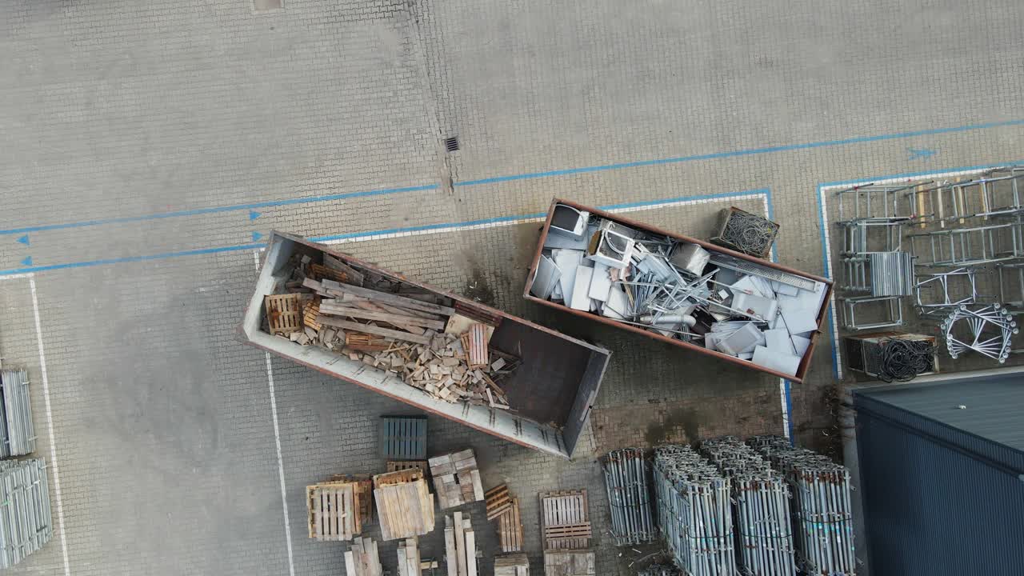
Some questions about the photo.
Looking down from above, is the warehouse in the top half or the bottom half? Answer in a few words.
bottom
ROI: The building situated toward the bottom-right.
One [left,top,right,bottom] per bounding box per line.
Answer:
[851,373,1024,576]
